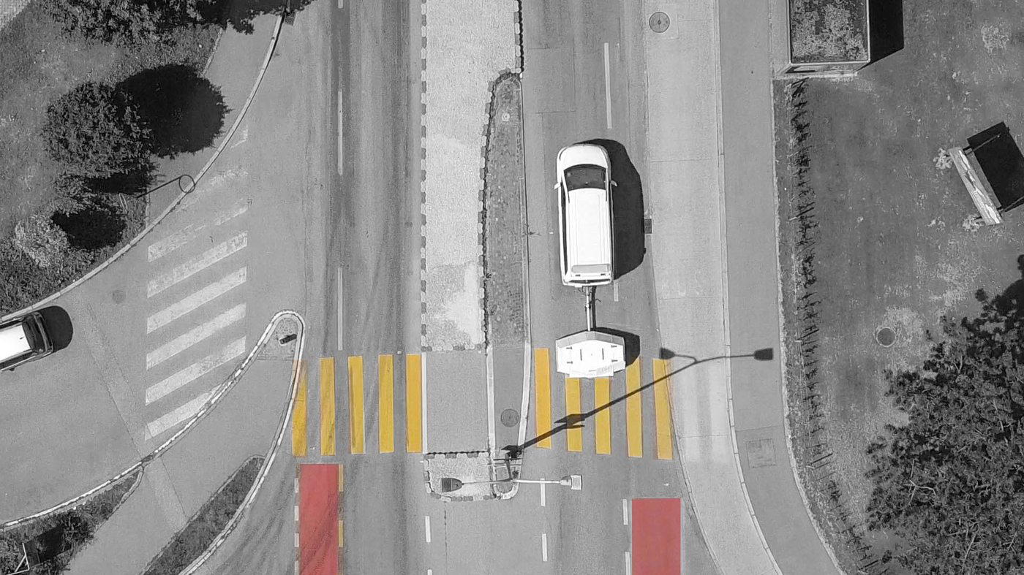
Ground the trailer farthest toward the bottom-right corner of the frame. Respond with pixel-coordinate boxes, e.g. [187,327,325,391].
[557,286,626,378]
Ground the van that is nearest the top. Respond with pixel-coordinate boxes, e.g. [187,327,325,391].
[551,143,619,290]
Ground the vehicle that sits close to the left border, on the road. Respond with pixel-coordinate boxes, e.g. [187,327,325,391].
[0,311,57,373]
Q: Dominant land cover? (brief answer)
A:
paved ground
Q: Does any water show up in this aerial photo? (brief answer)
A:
No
